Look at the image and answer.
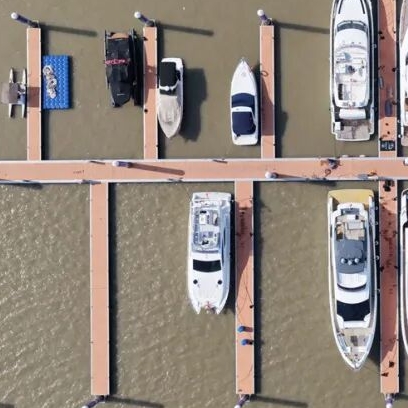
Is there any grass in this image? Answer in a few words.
No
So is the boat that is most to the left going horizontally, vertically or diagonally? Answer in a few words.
vertically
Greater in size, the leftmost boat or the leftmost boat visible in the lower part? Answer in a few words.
the leftmost boat visible in the lower part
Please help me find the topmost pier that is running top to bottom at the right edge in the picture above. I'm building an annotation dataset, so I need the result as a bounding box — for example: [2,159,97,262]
[378,0,397,158]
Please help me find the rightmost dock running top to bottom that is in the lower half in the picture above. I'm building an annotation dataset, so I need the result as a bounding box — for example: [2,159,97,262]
[379,180,399,402]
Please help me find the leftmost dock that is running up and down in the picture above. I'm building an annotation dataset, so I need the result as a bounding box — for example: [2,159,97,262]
[27,18,43,160]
